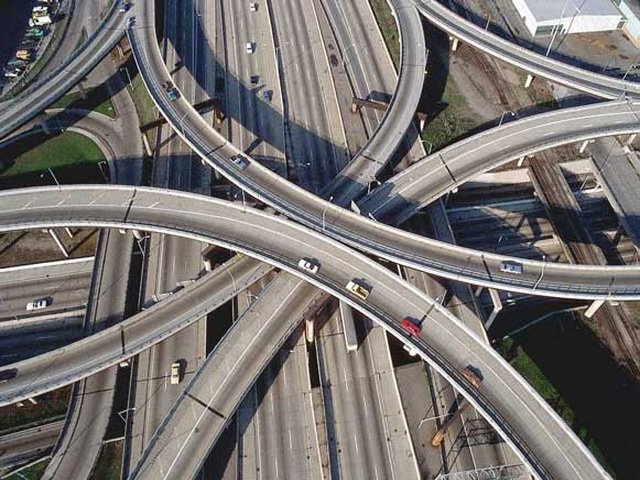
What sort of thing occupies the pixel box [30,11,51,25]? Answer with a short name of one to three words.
vehicle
